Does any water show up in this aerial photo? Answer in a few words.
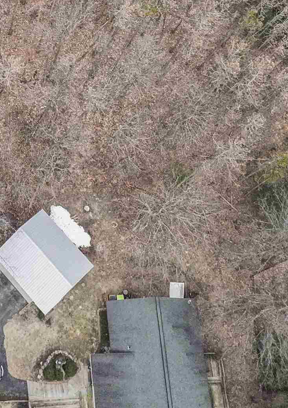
No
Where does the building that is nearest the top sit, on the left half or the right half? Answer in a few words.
left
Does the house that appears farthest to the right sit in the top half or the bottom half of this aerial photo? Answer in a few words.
bottom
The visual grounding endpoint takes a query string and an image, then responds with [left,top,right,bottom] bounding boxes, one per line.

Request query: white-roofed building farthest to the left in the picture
[0,210,94,314]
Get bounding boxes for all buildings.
[89,298,210,408]
[0,210,94,314]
